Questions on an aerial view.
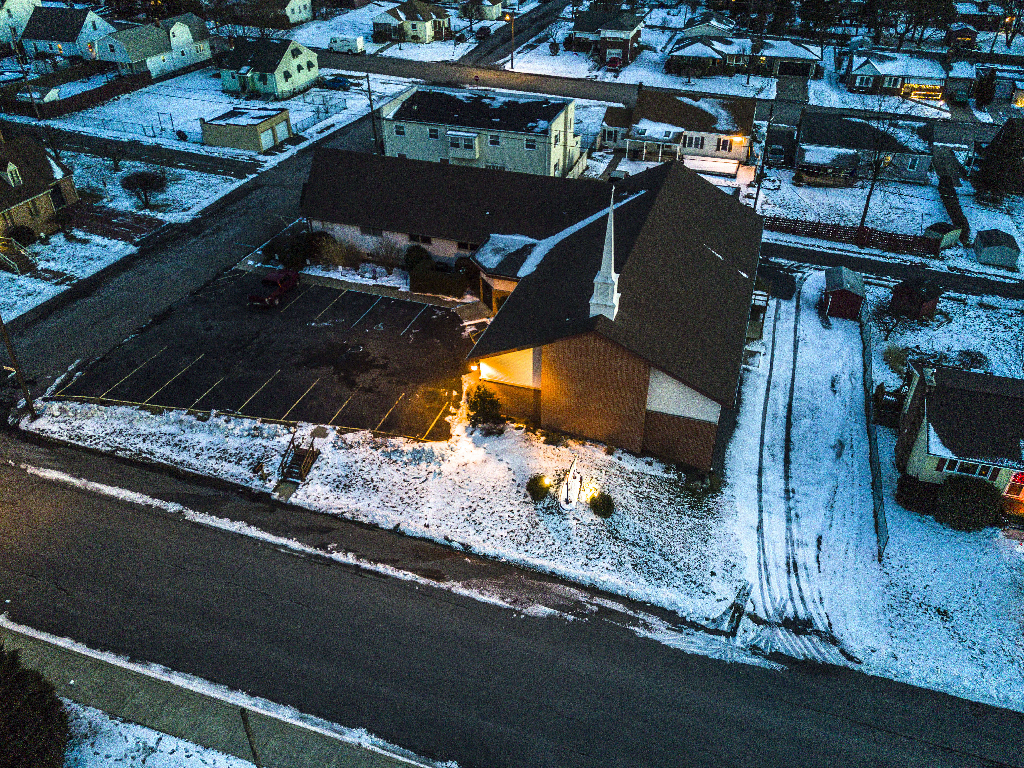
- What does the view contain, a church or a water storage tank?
church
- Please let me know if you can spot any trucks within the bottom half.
No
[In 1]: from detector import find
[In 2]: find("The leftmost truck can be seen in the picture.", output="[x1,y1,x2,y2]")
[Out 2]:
[251,262,311,303]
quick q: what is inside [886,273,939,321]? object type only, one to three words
shed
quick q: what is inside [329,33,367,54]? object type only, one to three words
vehicle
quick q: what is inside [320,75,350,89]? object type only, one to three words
car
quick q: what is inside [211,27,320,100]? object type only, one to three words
house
